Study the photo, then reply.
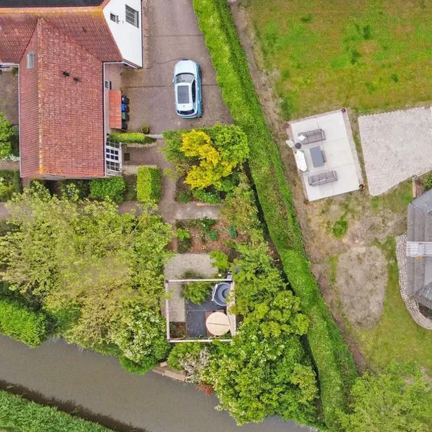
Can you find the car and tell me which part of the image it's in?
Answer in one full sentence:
The car sits in the top section of the image.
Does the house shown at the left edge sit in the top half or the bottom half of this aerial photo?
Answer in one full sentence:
The top half of the photo is where the house shown at the left edge is.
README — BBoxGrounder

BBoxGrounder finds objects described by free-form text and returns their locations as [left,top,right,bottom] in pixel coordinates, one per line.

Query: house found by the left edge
[0,0,143,178]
